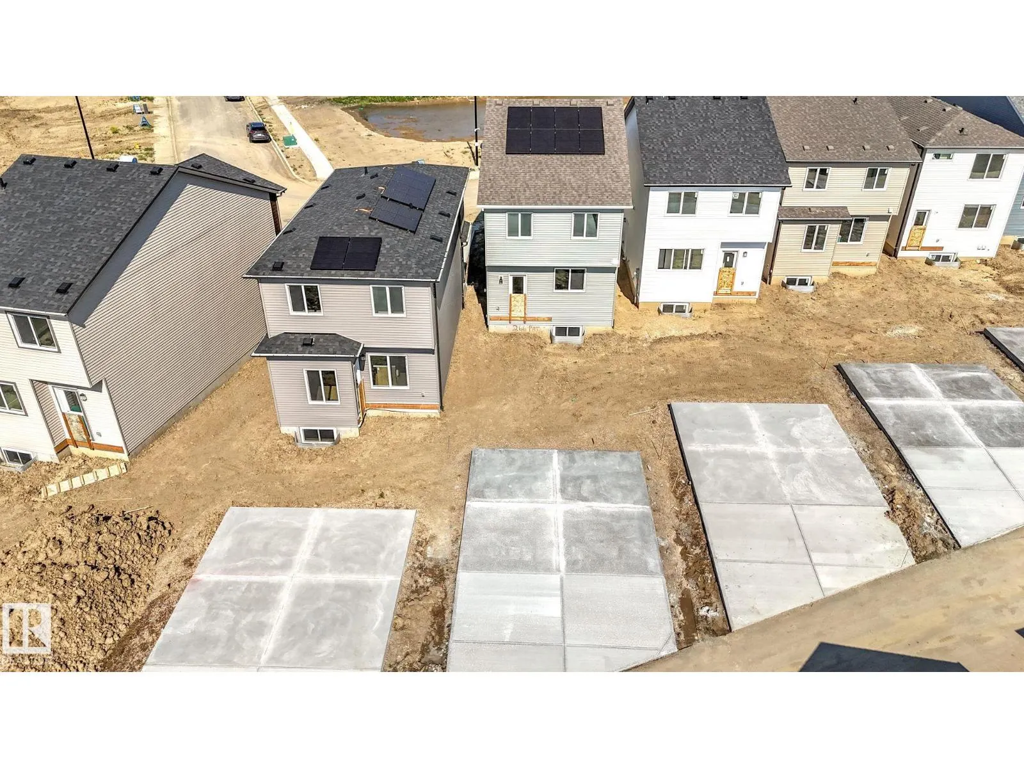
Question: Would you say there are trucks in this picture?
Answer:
No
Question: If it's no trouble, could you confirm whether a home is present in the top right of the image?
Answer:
Yes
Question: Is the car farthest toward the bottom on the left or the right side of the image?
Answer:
left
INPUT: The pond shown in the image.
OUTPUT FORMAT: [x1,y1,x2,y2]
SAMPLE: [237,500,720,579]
[359,101,482,142]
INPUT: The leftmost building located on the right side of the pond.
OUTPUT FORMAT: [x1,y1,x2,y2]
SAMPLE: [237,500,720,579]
[475,97,635,342]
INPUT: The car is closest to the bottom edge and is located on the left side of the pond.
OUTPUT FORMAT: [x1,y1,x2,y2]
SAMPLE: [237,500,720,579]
[241,115,268,140]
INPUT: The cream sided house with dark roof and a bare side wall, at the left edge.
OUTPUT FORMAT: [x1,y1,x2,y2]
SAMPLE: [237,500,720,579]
[0,152,287,467]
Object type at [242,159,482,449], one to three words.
house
